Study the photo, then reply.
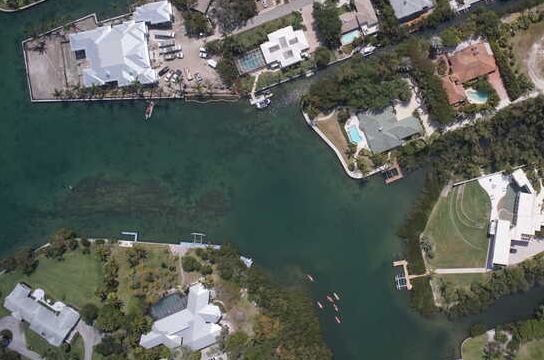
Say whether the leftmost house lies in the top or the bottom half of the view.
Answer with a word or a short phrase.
bottom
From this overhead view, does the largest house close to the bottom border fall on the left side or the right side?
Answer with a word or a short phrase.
left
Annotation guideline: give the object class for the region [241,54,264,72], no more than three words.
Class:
swimming pool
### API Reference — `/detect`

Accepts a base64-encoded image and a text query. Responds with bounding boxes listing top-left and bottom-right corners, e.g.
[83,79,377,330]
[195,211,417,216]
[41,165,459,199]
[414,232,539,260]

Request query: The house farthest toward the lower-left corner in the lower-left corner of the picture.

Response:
[4,283,81,347]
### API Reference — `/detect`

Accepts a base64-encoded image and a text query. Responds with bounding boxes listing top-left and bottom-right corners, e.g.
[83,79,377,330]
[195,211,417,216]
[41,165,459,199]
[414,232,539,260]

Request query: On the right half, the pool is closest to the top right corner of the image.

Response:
[467,91,489,104]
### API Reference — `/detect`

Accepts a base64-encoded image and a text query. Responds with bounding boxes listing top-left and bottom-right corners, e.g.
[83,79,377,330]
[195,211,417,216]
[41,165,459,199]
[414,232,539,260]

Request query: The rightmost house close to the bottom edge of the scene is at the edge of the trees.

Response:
[137,281,226,353]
